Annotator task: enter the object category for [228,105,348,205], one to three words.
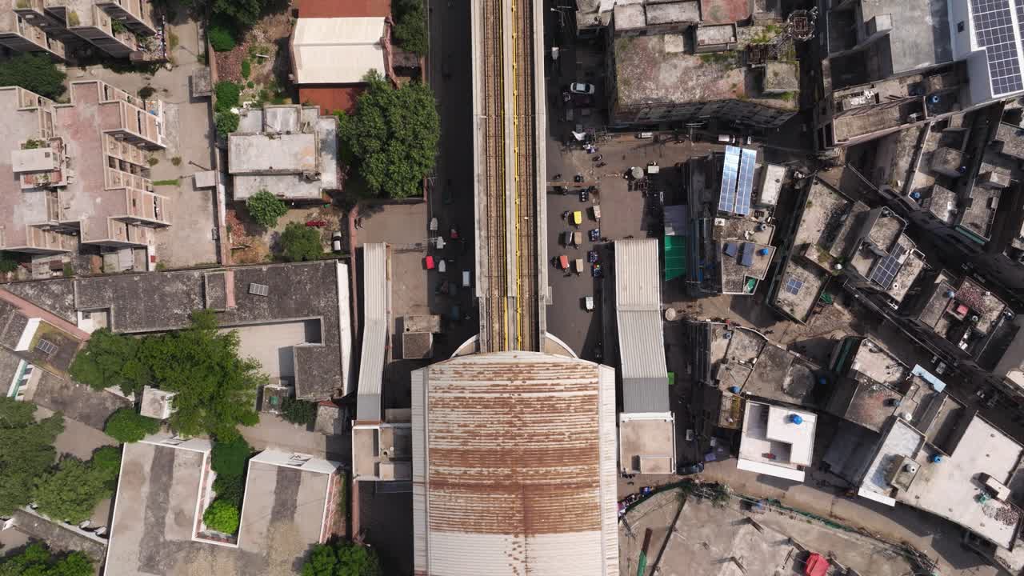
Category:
house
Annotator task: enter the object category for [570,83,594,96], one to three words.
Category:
vehicle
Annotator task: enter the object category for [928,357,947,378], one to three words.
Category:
car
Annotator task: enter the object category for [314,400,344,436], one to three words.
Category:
shed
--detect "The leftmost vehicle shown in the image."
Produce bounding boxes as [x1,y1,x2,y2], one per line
[331,230,344,252]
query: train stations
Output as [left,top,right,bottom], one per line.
[412,331,619,576]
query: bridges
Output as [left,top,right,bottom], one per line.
[470,0,554,352]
